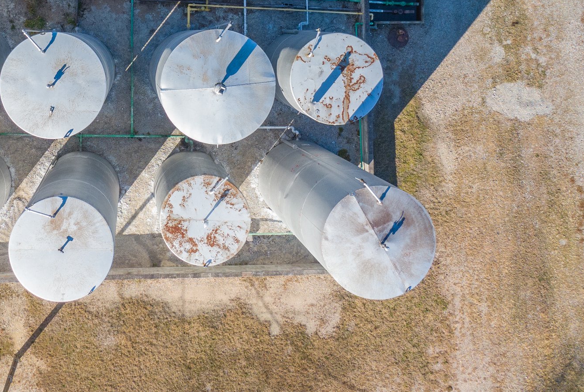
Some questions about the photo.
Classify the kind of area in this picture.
industrial area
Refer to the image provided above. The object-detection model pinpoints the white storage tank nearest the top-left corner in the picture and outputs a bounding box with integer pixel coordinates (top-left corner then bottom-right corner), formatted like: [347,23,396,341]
[0,29,113,140]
